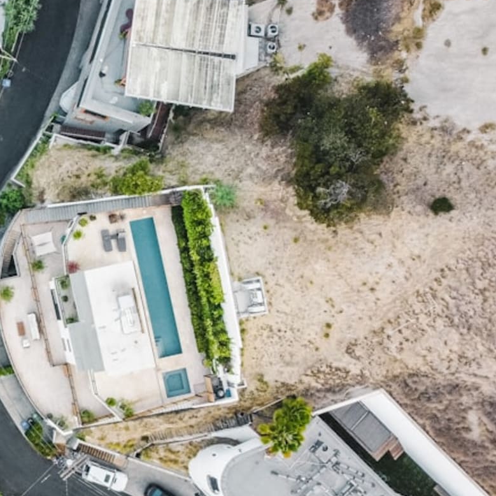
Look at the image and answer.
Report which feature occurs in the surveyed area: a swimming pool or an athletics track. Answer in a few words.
swimming pool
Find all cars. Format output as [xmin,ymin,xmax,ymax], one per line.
[141,482,176,496]
[79,460,133,495]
